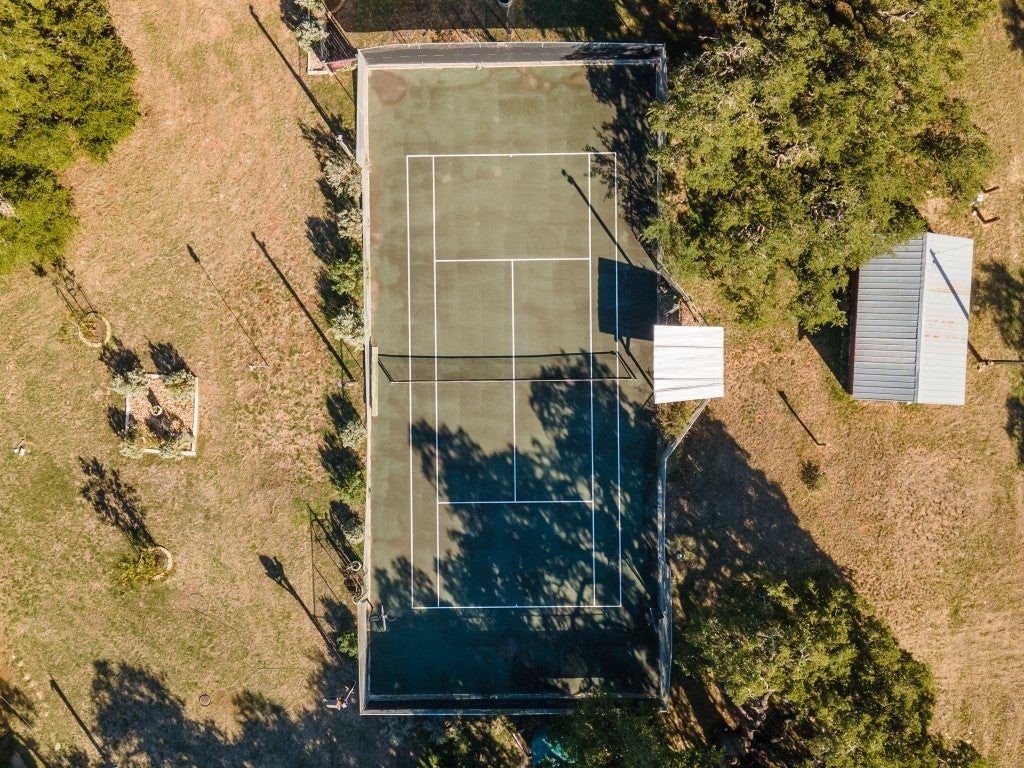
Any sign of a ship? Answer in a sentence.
No, the scene contains no ship.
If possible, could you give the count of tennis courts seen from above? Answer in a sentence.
In total, there is 1 tennis court in the scene.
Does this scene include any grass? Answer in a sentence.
Yes, there's grass in this view.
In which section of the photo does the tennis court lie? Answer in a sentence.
The tennis court is located in the center region of the scene.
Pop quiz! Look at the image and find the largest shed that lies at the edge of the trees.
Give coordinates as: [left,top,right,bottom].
[847,232,973,405]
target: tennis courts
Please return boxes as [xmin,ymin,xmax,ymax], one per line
[367,62,662,698]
